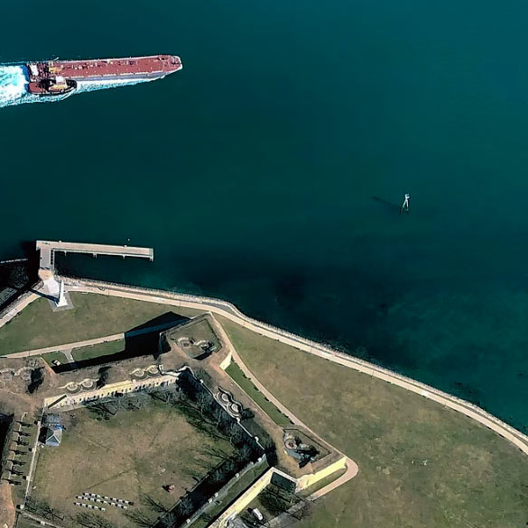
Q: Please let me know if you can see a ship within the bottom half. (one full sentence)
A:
No, within the bottom half there is no ship.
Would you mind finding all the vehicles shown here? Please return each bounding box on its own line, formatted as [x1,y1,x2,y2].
[249,519,261,527]
[252,507,263,519]
[52,359,62,365]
